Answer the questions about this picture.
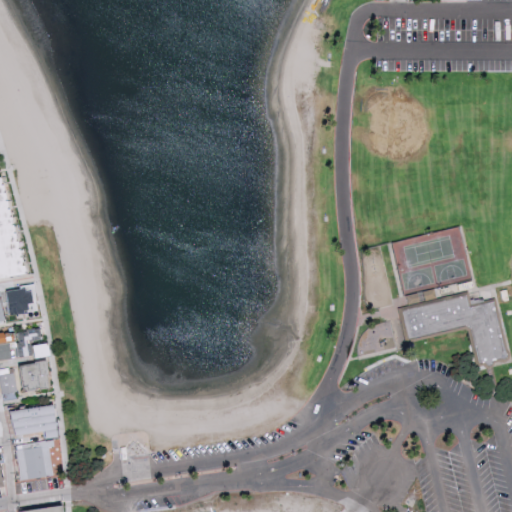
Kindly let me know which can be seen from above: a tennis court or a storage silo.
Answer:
tennis court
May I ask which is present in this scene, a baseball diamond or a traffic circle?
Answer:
baseball diamond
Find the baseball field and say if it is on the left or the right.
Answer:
right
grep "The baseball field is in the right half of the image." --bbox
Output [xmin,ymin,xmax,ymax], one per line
[354,88,428,158]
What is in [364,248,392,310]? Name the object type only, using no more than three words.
sports court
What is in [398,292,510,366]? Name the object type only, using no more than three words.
building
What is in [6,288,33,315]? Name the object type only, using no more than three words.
house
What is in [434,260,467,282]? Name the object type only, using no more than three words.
basketball court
